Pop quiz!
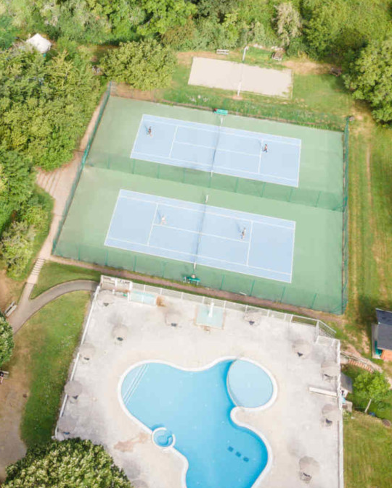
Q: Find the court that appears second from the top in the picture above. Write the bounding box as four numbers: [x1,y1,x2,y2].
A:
[84,96,344,212]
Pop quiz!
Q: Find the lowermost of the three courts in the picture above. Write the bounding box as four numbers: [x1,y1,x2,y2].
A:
[54,166,344,314]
